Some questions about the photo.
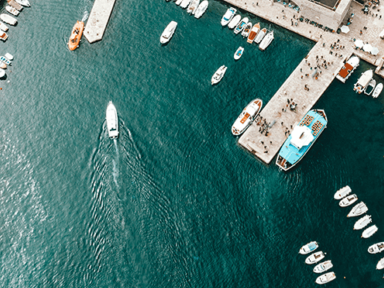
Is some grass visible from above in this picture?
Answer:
No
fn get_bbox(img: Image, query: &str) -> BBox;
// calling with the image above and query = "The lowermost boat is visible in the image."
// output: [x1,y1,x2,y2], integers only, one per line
[316,268,339,286]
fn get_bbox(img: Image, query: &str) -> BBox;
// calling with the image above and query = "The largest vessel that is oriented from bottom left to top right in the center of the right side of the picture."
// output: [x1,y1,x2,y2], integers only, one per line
[274,107,328,175]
